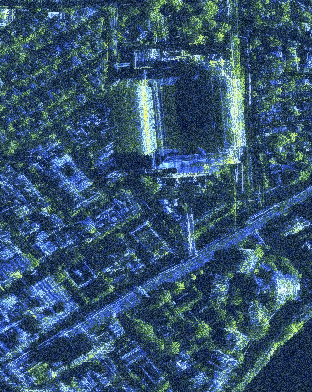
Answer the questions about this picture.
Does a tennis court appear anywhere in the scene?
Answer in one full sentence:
No, the picture doesn't show any tennis court.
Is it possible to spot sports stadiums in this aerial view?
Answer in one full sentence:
Yes, there's a sports stadium down there.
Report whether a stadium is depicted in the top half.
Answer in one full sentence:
Yes, a stadium is visible in the top half.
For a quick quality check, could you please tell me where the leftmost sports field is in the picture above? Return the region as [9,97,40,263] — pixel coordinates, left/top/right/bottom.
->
[164,82,181,147]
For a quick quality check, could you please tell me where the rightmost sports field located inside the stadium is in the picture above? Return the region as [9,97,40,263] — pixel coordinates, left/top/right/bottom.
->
[179,81,224,146]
